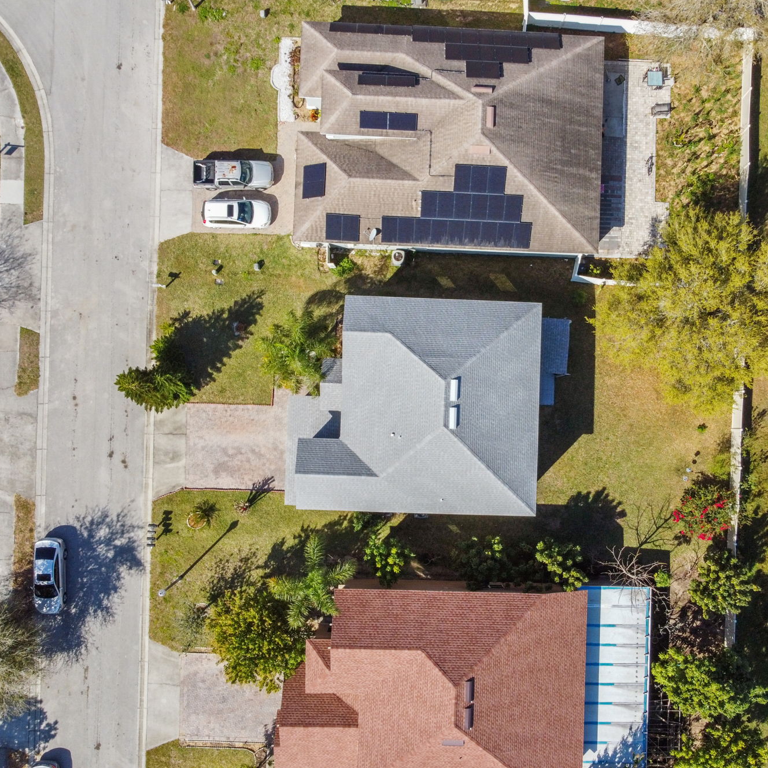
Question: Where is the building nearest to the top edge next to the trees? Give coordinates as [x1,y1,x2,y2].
[289,21,605,258]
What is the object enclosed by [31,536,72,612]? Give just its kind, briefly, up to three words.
car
